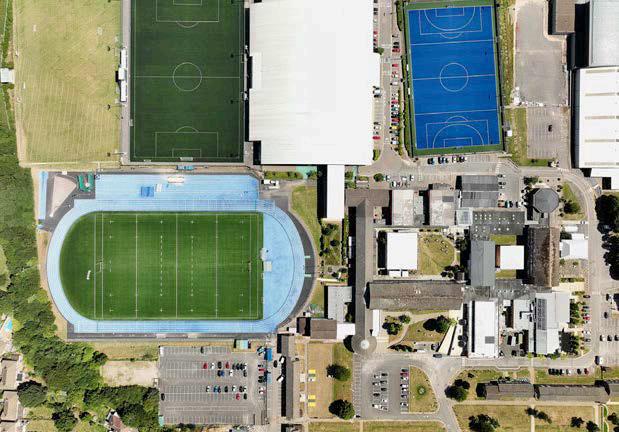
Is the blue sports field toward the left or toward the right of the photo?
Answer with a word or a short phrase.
right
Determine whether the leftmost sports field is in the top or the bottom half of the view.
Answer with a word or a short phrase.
top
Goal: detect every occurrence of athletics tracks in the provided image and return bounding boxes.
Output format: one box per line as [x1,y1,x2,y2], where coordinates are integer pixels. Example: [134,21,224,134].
[36,172,314,341]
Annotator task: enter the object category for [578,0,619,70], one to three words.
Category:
building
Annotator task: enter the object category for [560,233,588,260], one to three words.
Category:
shed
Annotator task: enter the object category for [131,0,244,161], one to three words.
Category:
soccer field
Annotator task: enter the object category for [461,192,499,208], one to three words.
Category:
building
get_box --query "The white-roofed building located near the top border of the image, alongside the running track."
[249,0,380,167]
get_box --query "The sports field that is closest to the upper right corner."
[406,0,503,156]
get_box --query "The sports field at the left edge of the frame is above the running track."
[13,0,121,162]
